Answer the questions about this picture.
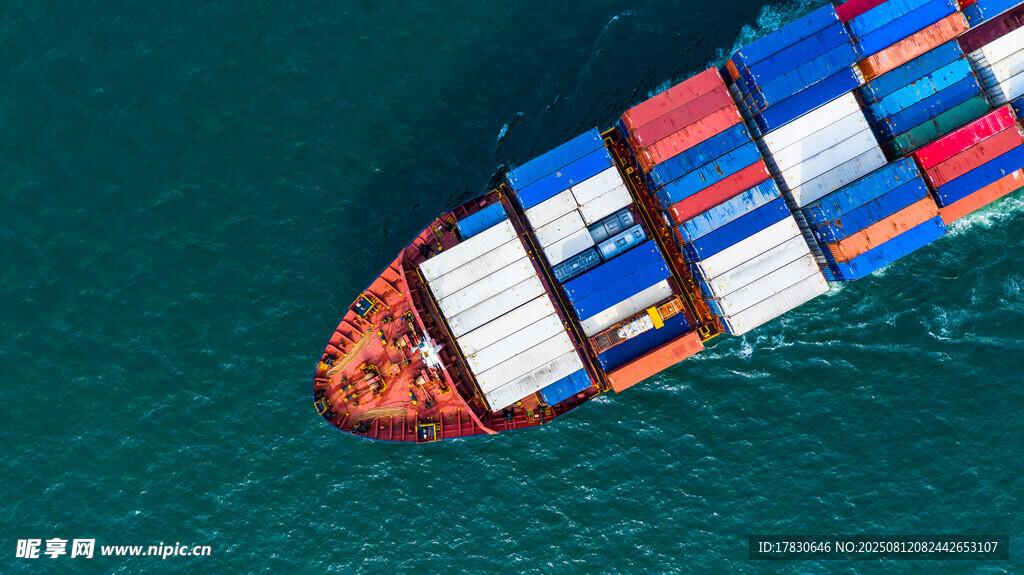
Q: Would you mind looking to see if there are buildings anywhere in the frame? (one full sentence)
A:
No, there is no building in the image.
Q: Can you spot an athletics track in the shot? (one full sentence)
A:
No, I find no athletics track anywhere in the image.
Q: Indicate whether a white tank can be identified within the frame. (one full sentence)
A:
No, no white tank can be seen from above.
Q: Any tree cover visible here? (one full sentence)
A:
No, there is no tree cover in the image.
